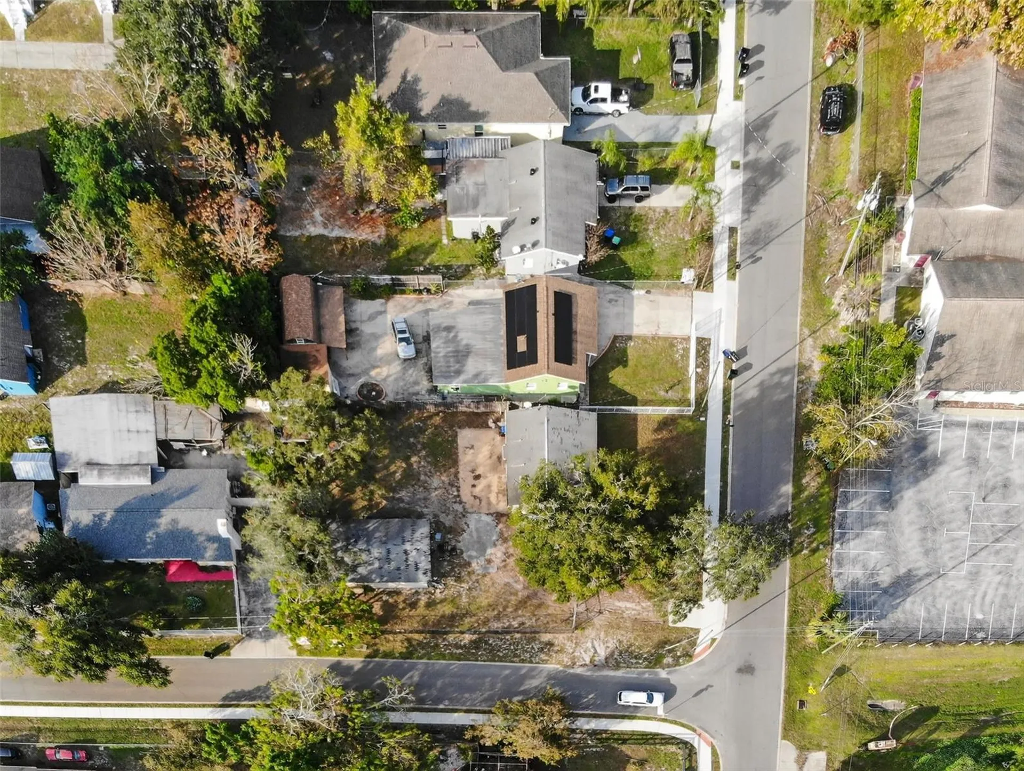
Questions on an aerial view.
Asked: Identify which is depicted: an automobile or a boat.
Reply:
automobile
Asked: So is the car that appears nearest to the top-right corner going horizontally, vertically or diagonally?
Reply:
vertically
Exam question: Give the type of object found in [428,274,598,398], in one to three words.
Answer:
house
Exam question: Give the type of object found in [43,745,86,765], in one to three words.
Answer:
car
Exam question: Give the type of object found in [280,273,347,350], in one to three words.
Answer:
shed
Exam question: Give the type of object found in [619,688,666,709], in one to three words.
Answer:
car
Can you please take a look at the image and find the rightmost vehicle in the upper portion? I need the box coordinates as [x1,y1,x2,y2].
[820,85,847,138]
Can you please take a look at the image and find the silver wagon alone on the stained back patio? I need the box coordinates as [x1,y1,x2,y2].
[391,314,417,362]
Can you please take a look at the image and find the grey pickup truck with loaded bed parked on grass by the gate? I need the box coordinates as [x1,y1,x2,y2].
[671,36,696,99]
